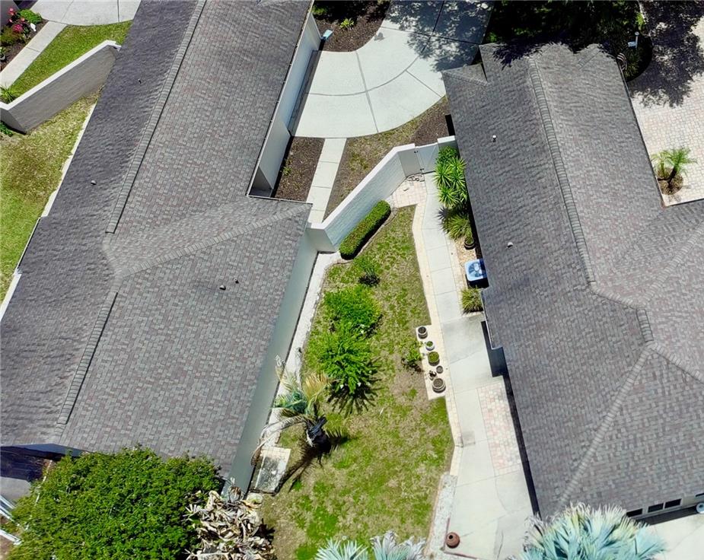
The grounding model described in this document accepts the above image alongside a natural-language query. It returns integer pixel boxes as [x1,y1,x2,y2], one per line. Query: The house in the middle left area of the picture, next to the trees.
[0,0,340,491]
